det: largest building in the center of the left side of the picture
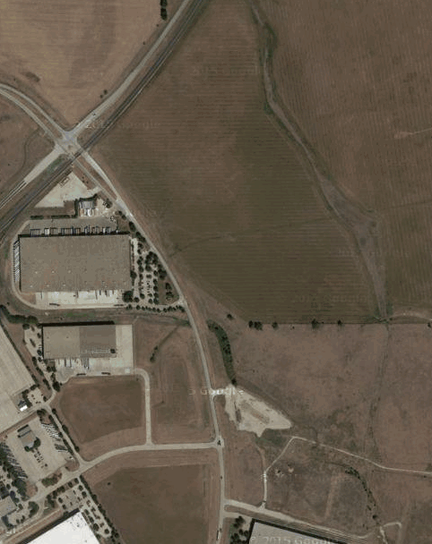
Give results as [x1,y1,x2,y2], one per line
[19,236,131,292]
